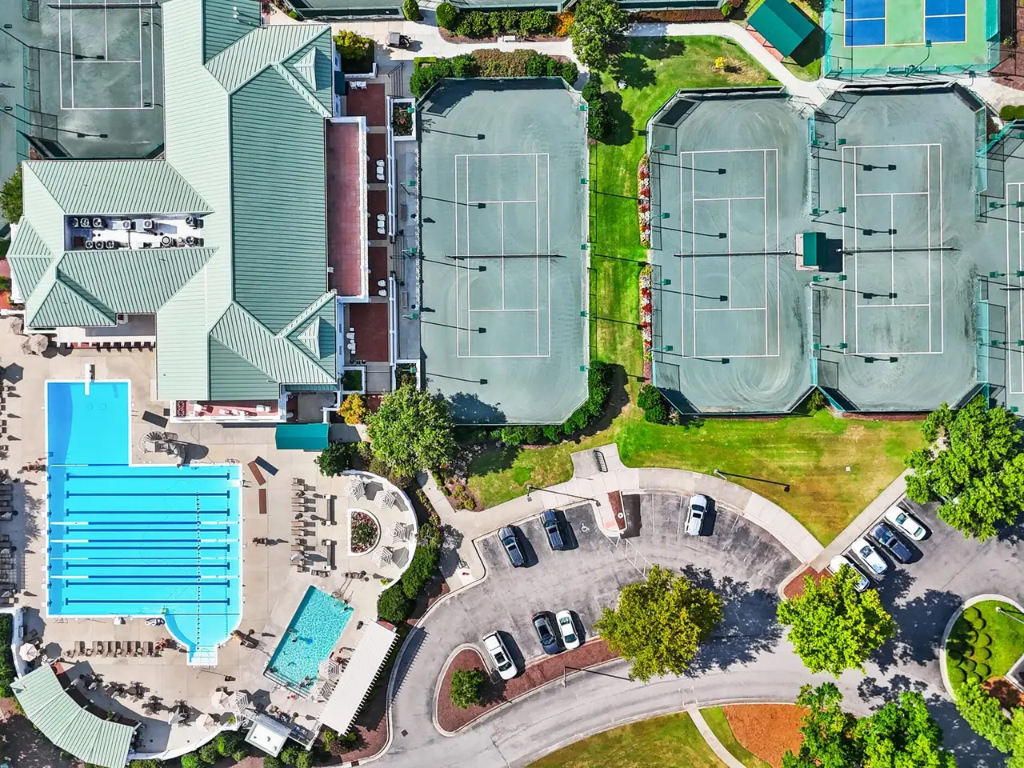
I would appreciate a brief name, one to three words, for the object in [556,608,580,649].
car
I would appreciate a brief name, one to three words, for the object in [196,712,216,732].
umbrella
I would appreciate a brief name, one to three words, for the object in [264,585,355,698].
swimming pool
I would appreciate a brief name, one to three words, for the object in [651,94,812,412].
tennis court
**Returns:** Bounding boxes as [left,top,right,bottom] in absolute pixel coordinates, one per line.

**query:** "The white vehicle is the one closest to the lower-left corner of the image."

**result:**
[486,631,515,675]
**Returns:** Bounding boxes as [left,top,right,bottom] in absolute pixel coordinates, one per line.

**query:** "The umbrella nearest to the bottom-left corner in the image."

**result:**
[21,641,42,661]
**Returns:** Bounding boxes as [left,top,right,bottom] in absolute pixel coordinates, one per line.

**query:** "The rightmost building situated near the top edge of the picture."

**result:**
[746,0,815,63]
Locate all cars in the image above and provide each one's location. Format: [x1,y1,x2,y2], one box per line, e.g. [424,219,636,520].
[850,537,886,575]
[685,493,708,536]
[486,631,515,675]
[831,555,867,589]
[556,608,580,649]
[498,523,527,568]
[885,505,926,541]
[532,611,559,652]
[540,506,567,552]
[869,522,911,564]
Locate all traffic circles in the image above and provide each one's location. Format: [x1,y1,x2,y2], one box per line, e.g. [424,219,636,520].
[941,596,1024,703]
